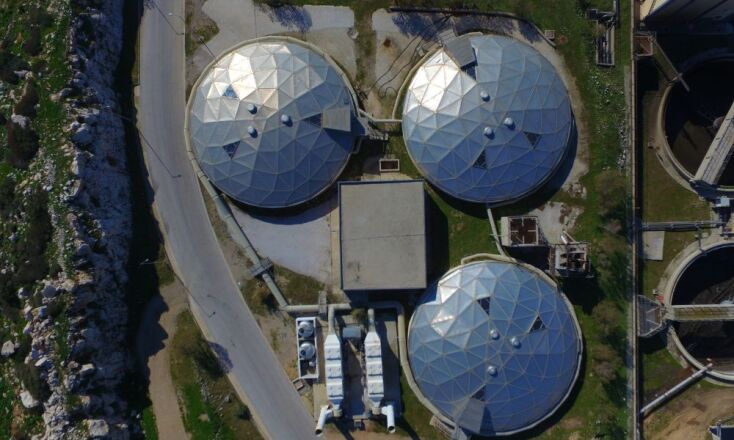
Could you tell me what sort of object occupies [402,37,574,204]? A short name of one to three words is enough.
storage tank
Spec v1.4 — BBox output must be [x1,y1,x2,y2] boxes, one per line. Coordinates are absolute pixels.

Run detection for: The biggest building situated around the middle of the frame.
[340,181,426,292]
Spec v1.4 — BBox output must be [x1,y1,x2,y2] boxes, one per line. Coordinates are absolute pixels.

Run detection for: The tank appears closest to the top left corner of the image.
[190,44,356,209]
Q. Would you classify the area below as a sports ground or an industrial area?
industrial area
